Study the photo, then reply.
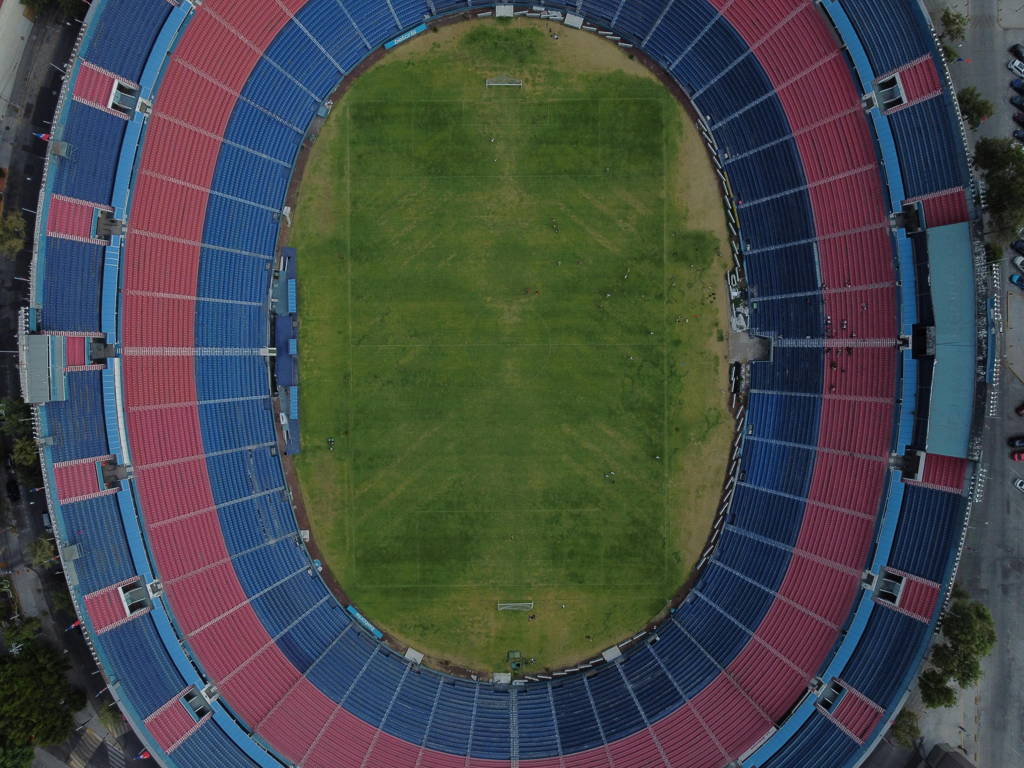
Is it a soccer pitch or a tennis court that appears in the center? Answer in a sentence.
It is a soccer pitch that can be seen in the center.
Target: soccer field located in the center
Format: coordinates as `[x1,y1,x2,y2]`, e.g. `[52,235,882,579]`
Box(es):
[288,16,734,675]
